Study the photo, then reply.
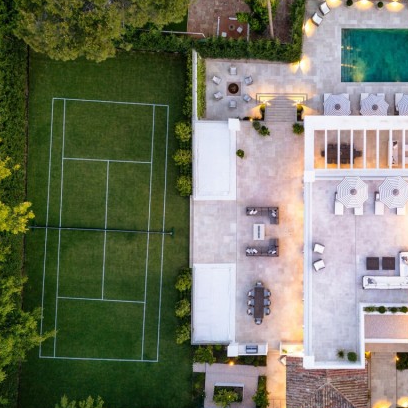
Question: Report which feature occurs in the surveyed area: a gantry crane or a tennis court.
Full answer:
There is a tennis court in the scene.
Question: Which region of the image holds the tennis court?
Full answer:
The tennis court appears toward the left of the photo.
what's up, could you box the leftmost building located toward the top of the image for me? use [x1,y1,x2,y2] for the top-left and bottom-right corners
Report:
[192,122,239,201]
